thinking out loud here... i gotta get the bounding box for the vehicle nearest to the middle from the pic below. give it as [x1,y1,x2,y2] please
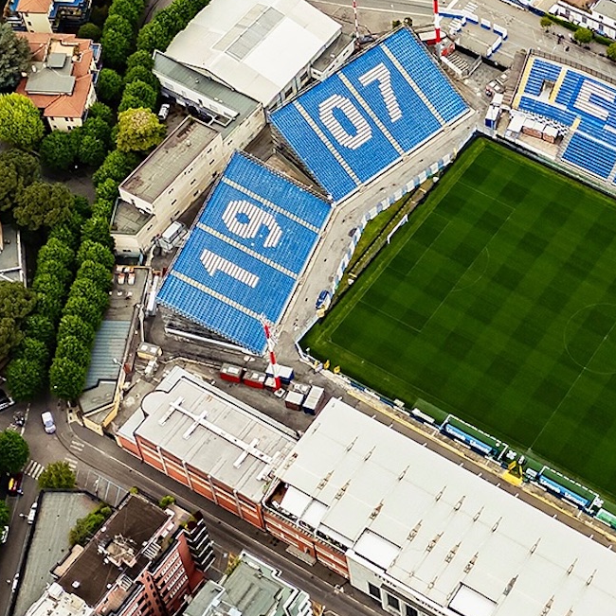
[315,286,330,306]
